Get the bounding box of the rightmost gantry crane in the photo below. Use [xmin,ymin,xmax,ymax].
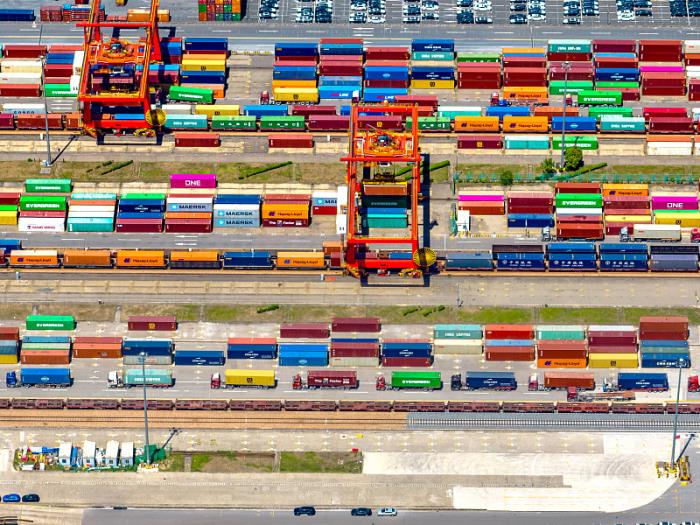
[332,103,436,277]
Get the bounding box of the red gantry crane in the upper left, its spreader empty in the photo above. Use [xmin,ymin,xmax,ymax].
[62,0,161,137]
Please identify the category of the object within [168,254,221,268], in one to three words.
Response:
rail car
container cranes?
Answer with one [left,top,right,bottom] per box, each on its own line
[62,0,161,137]
[332,103,436,277]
